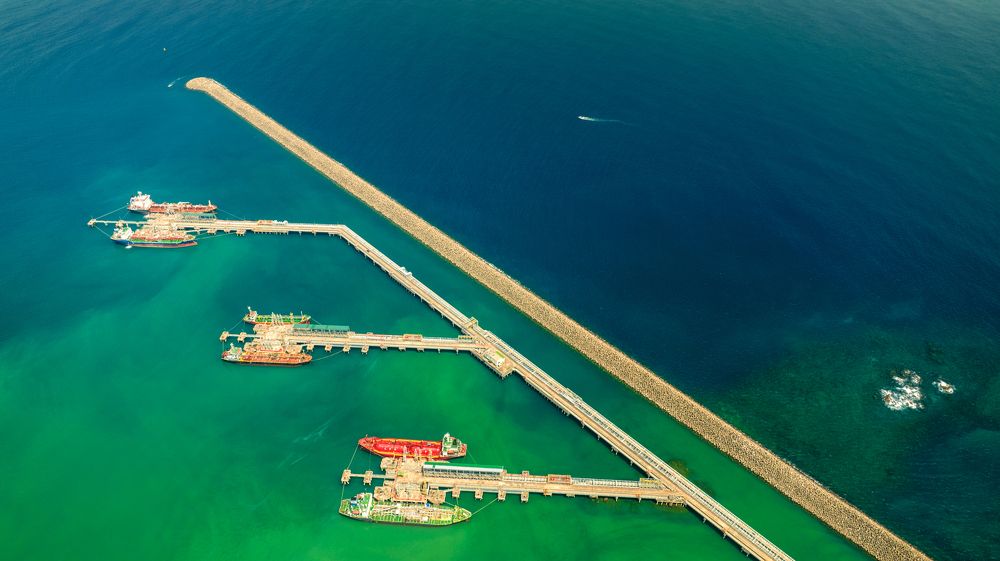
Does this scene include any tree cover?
No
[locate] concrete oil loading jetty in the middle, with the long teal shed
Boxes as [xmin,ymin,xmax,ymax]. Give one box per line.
[250,324,476,357]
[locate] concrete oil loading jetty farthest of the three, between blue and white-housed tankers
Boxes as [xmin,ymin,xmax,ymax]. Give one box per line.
[141,213,345,237]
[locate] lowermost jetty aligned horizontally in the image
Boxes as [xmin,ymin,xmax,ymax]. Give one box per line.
[380,459,688,510]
